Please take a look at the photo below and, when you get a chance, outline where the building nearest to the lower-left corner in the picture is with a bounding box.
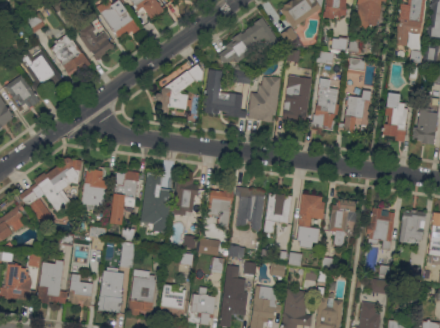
[0,264,31,300]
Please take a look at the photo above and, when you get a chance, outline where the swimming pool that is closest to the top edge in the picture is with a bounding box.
[304,19,318,39]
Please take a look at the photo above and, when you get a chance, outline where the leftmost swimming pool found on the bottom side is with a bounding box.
[12,229,36,245]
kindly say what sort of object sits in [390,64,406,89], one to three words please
swimming pool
